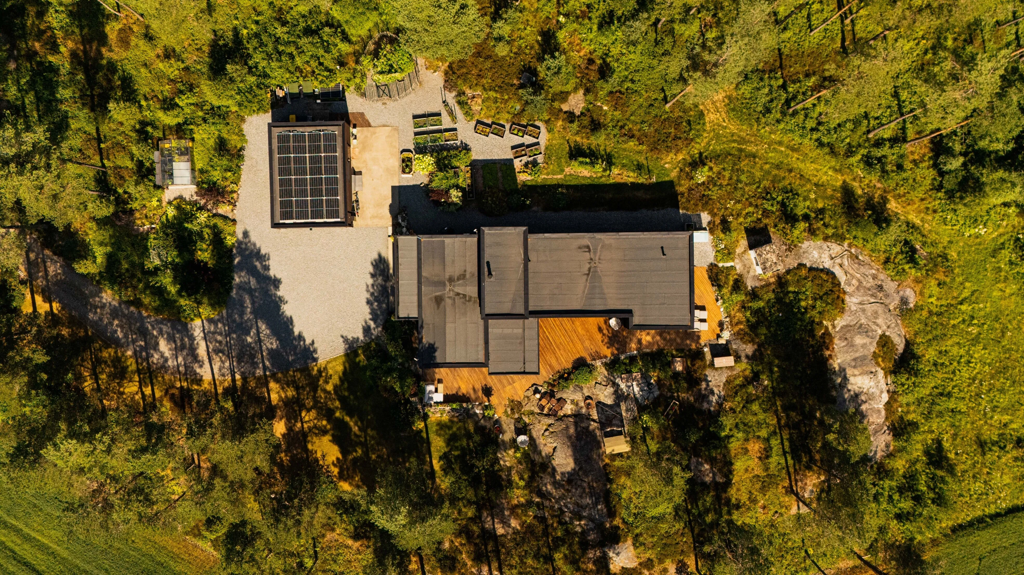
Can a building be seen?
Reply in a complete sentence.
Yes, the photo shows a building.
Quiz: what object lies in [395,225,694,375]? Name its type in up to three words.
house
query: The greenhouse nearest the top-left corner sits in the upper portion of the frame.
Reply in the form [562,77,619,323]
[158,135,197,183]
